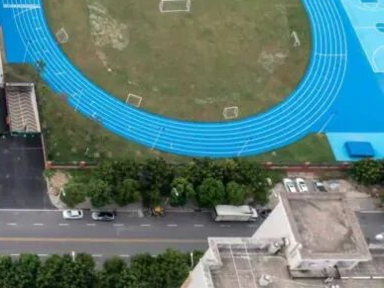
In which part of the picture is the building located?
bottom right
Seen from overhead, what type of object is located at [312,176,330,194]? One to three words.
car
